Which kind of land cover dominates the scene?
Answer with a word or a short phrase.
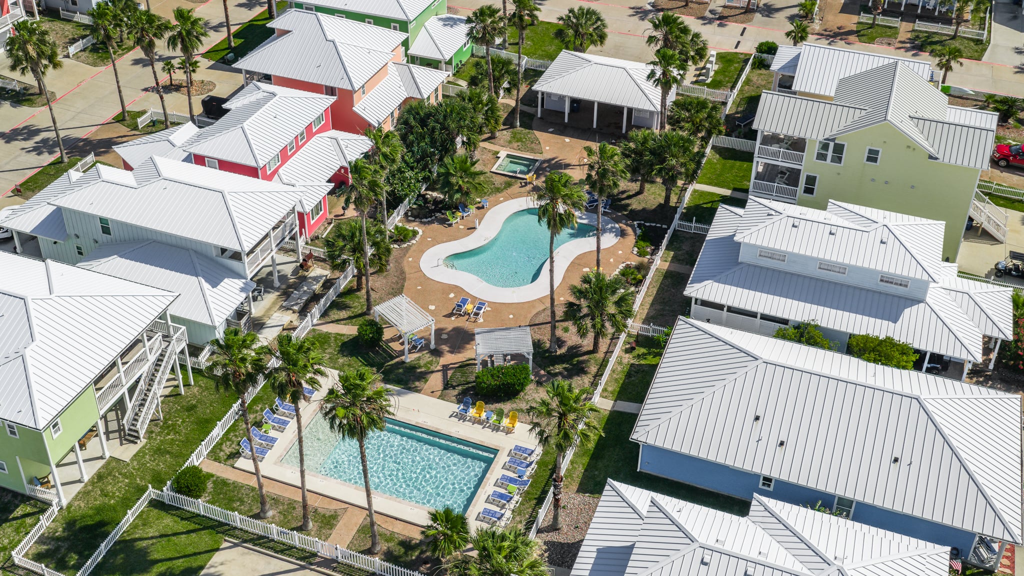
buildings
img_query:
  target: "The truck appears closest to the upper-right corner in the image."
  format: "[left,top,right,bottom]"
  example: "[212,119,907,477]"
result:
[993,147,1024,169]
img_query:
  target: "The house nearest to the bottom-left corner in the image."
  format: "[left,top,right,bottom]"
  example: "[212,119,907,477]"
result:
[0,250,207,502]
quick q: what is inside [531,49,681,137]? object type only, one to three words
building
